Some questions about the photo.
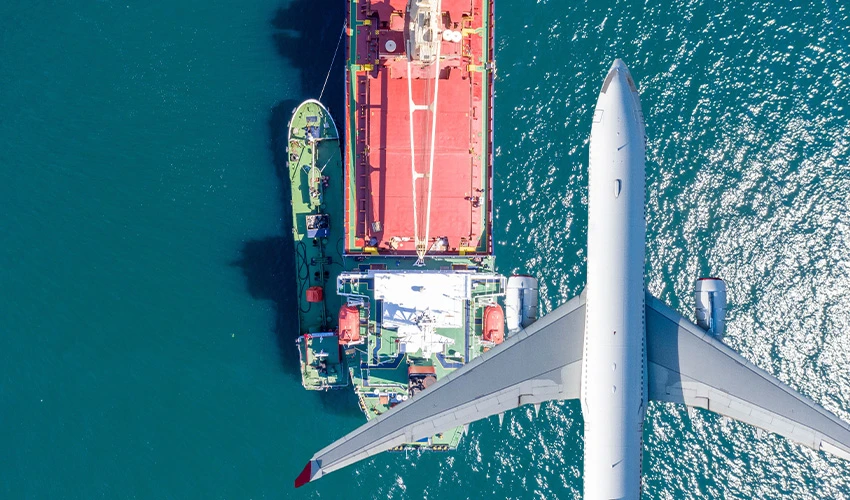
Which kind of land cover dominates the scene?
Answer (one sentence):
The bulk of the photo consists of water.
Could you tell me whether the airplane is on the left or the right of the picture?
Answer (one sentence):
It is on the right.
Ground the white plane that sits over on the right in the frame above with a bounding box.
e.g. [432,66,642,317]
[295,59,850,500]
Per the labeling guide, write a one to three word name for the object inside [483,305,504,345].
boat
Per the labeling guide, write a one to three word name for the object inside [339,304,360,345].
boat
